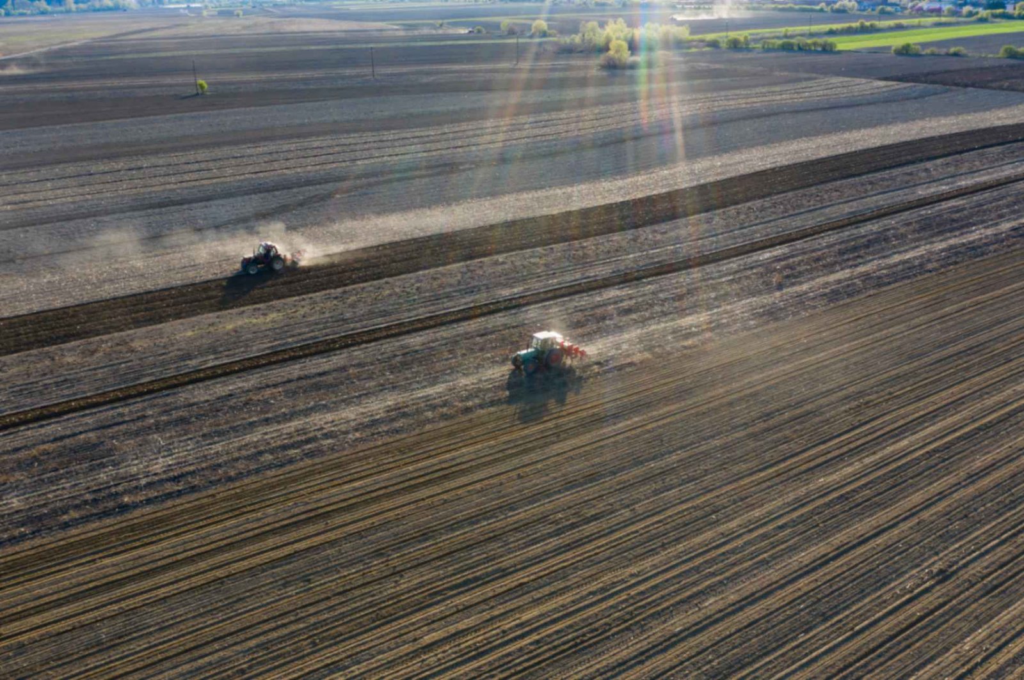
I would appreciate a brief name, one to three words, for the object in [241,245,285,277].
work vehicle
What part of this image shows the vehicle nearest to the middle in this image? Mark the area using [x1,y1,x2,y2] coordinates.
[515,335,568,377]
